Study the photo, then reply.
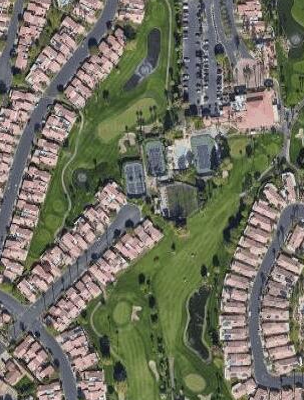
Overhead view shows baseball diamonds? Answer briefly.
No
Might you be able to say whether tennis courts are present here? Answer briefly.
Yes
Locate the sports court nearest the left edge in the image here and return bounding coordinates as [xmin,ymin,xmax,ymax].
[123,162,145,195]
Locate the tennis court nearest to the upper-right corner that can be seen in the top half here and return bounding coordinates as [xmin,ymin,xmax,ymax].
[191,135,213,173]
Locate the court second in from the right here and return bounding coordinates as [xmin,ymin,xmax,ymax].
[144,140,166,175]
